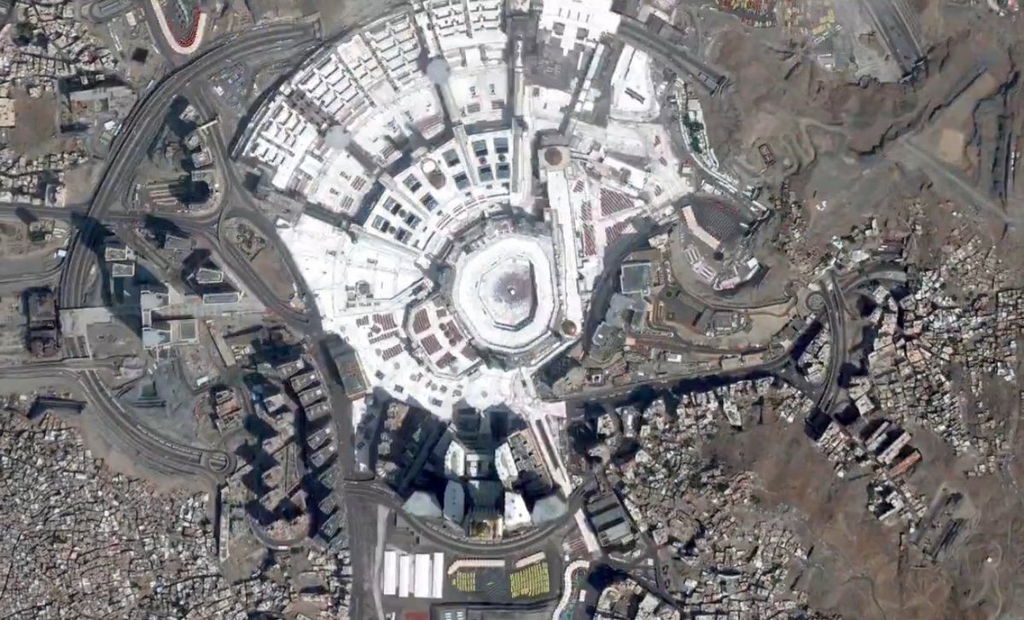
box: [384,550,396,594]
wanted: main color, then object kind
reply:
white tent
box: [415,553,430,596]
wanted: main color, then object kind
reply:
white tent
